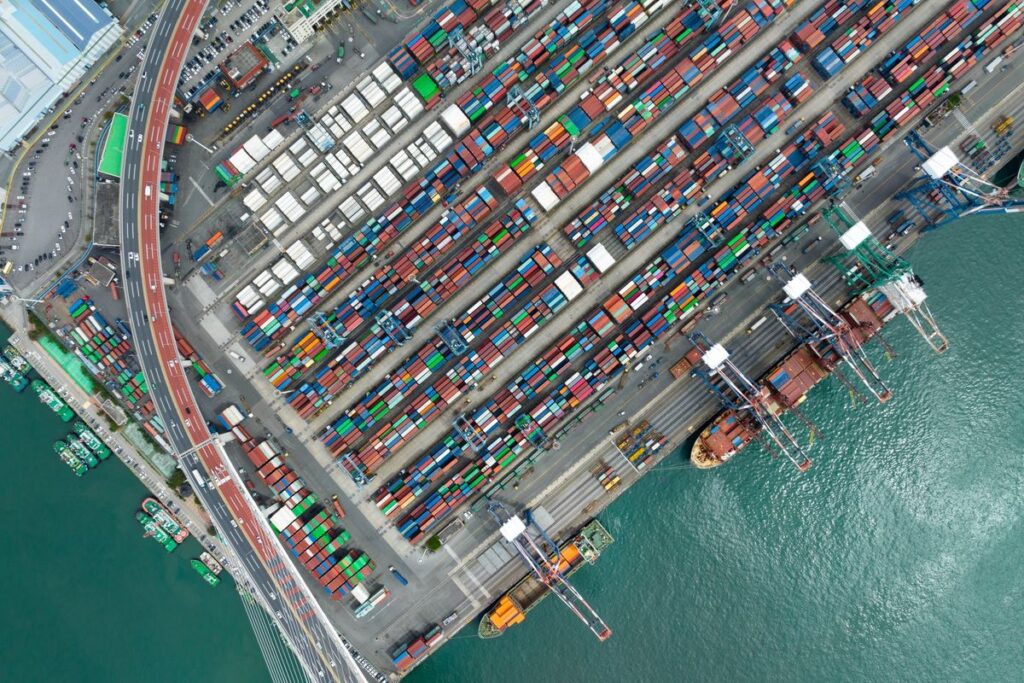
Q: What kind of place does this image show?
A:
port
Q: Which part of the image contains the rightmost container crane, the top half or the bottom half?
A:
top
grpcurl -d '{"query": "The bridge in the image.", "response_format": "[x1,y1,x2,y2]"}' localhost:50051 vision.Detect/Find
[120,0,372,683]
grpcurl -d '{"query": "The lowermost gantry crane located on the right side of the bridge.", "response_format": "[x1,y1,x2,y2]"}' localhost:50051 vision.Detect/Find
[485,499,609,642]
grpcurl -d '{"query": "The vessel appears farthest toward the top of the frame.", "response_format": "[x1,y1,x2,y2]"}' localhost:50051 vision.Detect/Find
[1000,156,1024,196]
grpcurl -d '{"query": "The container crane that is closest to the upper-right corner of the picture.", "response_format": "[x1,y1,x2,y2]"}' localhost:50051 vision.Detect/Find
[890,138,1024,233]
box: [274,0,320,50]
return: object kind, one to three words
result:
building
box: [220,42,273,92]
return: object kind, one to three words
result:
building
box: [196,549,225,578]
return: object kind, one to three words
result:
ship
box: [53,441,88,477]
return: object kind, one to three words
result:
boat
